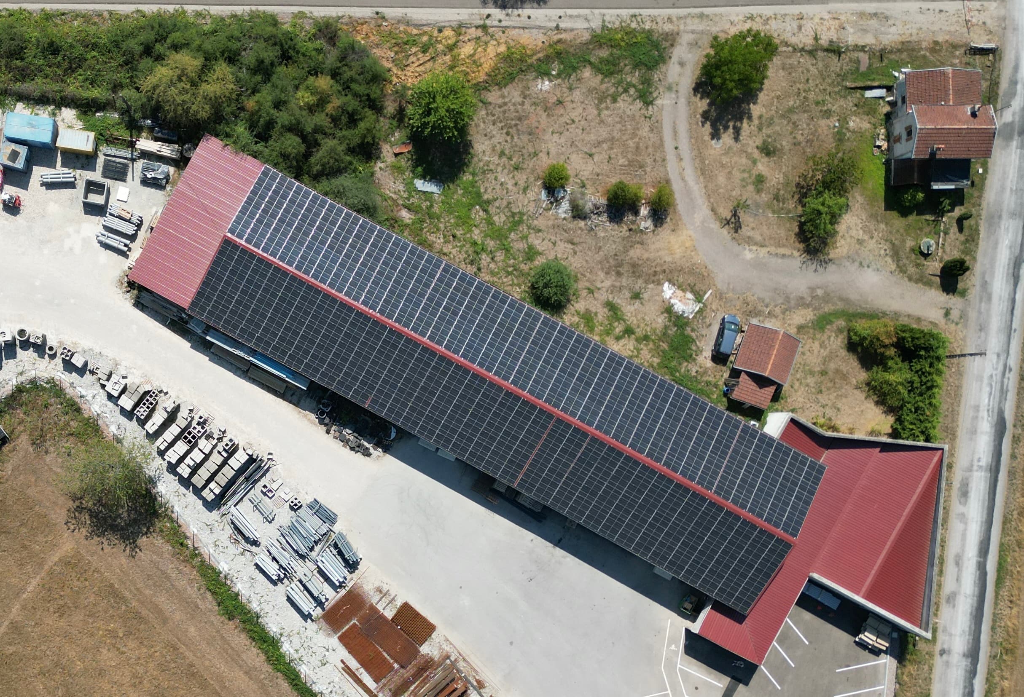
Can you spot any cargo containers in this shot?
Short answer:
Yes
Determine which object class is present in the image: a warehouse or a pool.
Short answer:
warehouse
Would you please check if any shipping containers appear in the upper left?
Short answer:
Yes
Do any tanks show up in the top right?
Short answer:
No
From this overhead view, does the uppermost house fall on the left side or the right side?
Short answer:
right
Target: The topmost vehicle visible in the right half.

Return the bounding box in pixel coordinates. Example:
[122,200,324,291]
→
[711,315,741,359]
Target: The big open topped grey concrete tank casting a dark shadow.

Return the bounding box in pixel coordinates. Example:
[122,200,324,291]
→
[81,178,110,208]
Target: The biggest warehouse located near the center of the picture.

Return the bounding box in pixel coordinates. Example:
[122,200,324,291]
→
[128,134,829,616]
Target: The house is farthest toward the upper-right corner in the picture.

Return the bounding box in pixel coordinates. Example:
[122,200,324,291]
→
[881,67,998,192]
